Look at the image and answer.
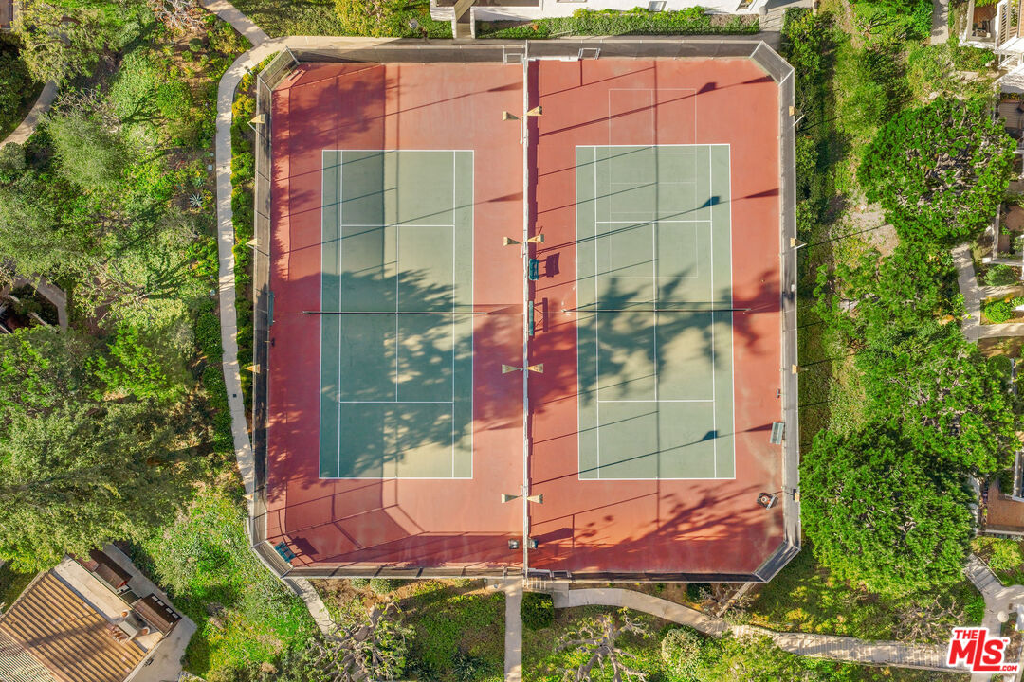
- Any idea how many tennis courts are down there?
2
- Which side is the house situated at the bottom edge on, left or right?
left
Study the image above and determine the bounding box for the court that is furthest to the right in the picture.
[530,57,785,574]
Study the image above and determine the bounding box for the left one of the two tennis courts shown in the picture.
[267,63,526,568]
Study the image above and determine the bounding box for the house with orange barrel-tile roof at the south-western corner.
[0,541,198,682]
